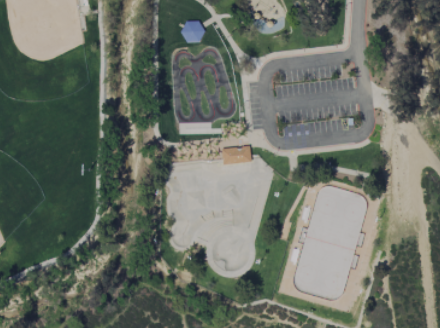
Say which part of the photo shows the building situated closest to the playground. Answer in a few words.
top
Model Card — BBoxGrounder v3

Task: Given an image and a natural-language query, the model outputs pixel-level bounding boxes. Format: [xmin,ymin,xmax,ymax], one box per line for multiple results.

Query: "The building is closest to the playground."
[181,20,206,42]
